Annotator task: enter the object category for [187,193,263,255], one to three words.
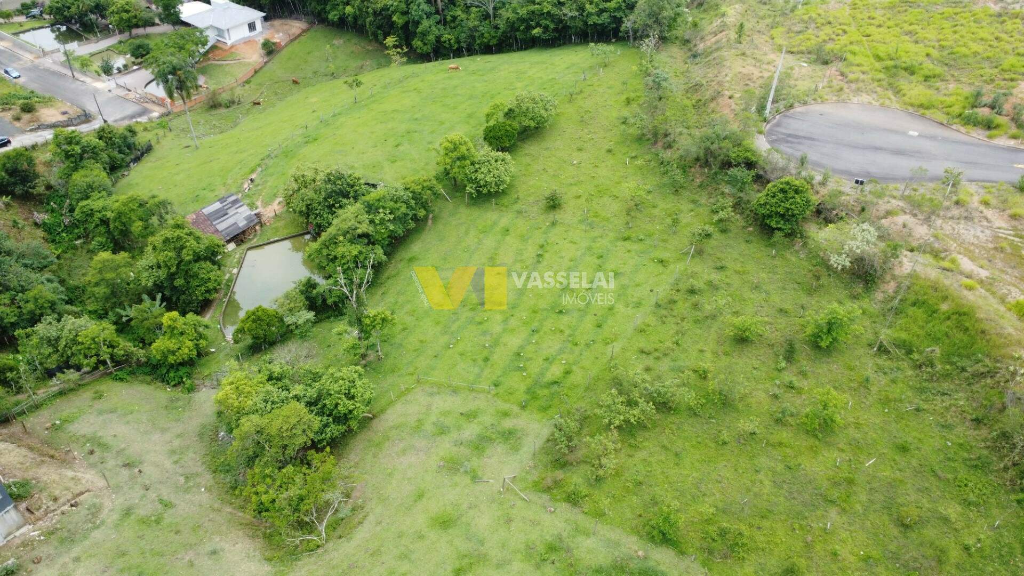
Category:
barn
